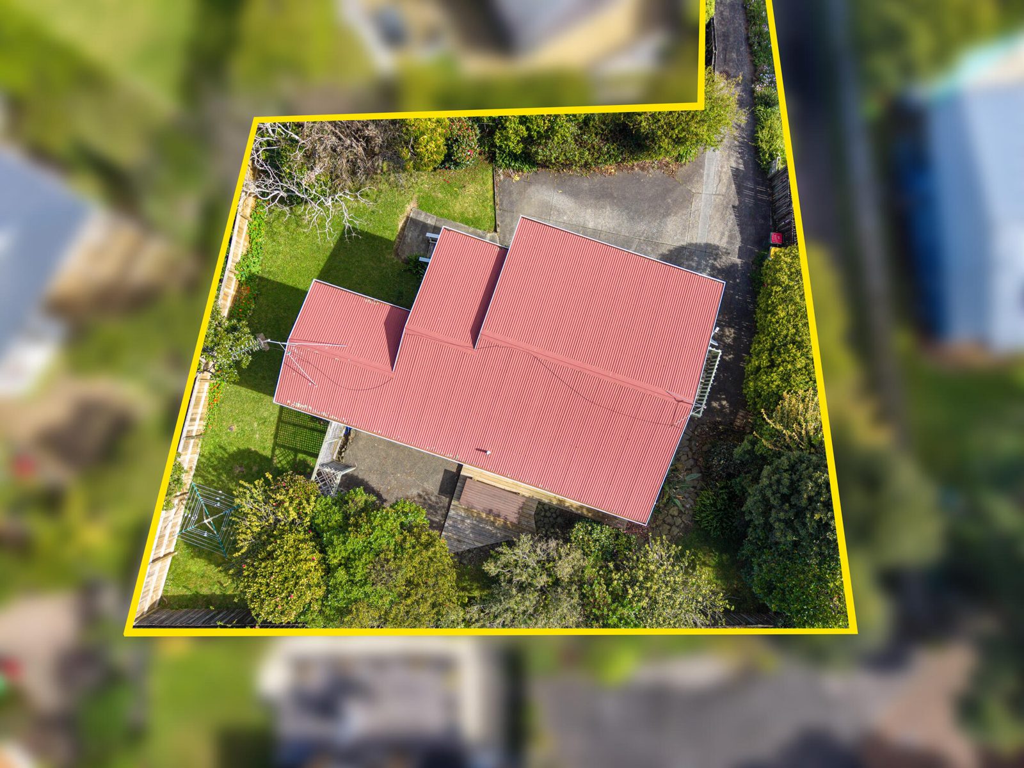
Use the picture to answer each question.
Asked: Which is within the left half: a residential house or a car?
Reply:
residential house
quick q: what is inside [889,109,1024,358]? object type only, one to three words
house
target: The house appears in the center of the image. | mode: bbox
[272,213,727,526]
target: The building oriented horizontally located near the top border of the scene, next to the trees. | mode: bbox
[466,0,664,80]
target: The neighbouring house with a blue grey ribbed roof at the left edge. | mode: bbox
[0,152,121,363]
